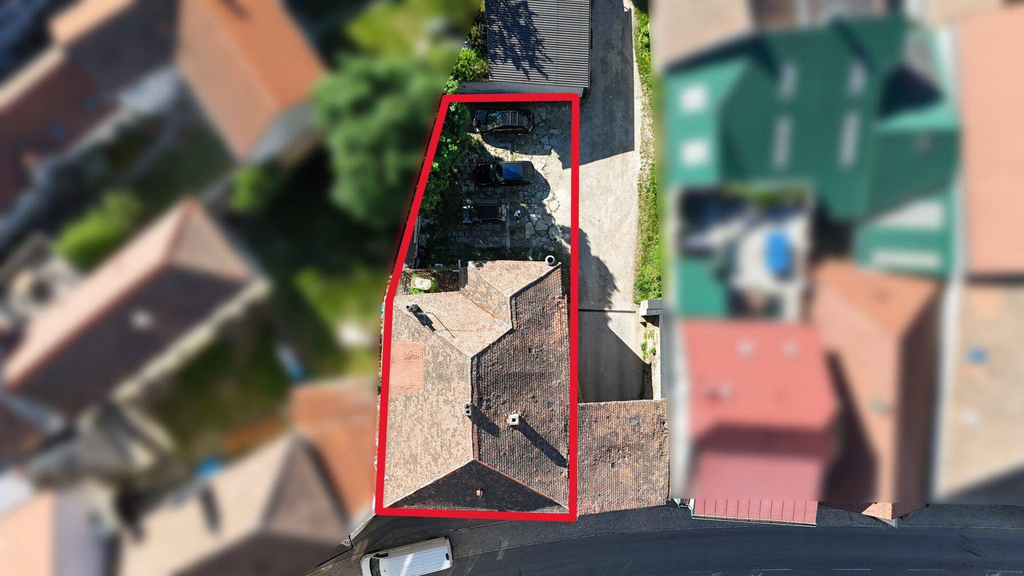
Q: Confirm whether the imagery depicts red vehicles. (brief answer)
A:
No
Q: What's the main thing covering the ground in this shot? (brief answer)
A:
buildings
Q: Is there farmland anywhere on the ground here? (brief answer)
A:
No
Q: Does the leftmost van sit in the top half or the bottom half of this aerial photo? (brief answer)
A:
bottom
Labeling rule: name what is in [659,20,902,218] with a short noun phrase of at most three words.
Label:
building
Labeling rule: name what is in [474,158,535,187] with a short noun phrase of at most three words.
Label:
car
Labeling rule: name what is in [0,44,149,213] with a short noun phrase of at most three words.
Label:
house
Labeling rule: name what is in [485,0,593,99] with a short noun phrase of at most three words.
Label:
shed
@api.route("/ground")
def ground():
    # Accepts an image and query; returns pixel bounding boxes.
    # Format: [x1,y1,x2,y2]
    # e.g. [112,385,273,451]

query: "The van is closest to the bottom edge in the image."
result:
[368,538,454,576]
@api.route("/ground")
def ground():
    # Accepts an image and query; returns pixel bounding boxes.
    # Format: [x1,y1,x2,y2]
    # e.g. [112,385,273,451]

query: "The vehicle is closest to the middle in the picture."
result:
[461,200,509,226]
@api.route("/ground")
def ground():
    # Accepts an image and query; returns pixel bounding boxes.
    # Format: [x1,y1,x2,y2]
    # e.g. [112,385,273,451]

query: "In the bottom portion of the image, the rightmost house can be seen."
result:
[931,283,1024,499]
